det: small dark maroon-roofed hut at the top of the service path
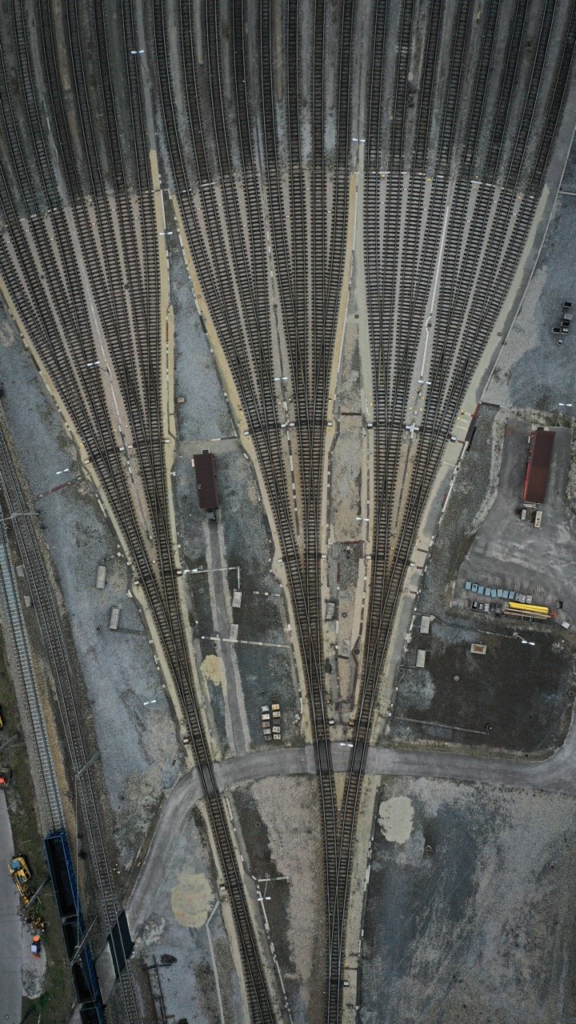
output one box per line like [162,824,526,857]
[194,454,218,510]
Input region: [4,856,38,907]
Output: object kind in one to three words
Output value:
work vehicle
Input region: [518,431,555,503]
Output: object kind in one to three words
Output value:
shed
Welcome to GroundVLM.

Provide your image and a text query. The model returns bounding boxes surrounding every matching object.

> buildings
[518,431,555,503]
[194,454,218,510]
